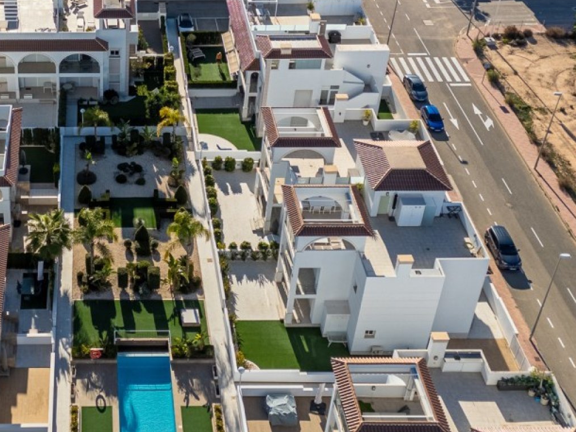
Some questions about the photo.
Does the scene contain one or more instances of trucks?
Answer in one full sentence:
No, there's no truck here.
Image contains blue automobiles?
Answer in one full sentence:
Yes, there's a blue automobile down there.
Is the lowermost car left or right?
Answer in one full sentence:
The lowermost car sits on the right side.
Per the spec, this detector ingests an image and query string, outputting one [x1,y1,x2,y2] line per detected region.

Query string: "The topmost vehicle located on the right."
[402,68,430,99]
